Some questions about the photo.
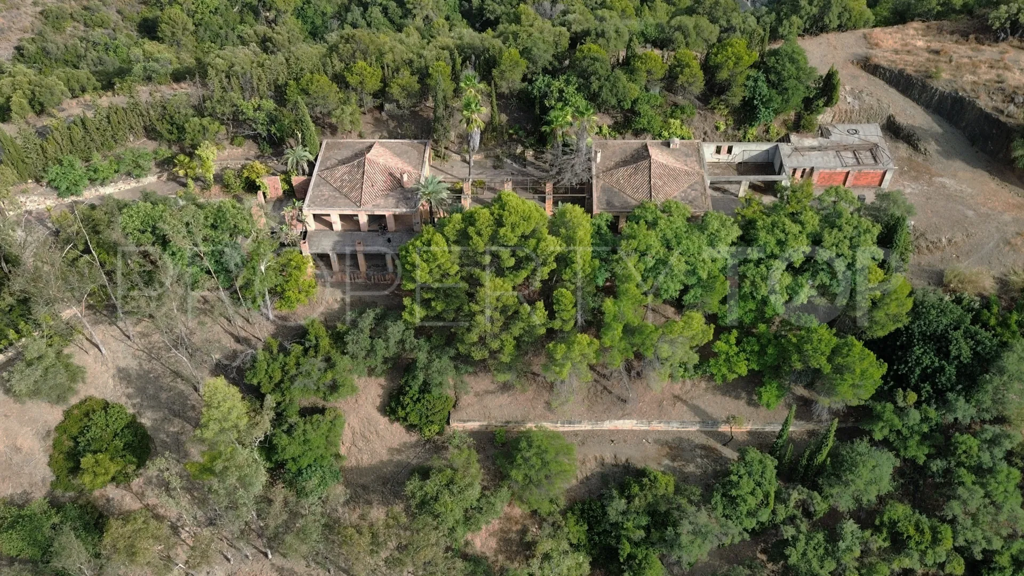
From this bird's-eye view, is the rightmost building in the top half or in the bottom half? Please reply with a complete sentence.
It is in the top half that the rightmost building appears.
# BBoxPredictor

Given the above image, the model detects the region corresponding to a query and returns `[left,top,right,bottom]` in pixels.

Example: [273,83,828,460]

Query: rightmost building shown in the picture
[776,124,902,195]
